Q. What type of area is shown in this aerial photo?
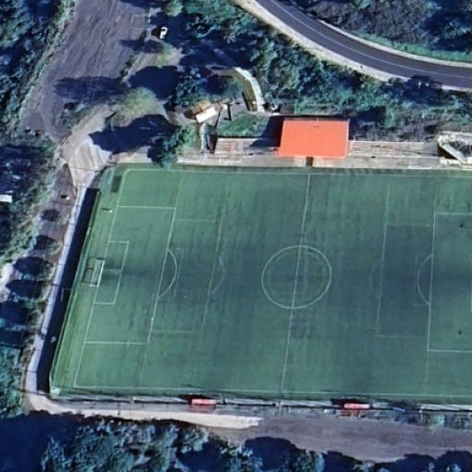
sports ground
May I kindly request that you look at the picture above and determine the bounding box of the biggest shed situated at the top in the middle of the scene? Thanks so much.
[189,101,220,126]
